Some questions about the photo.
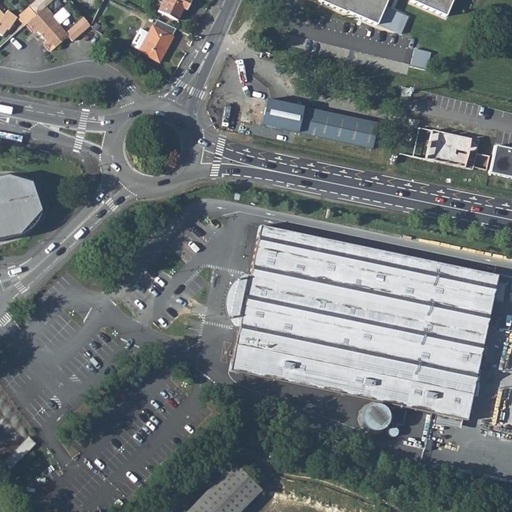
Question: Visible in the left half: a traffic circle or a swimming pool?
traffic circle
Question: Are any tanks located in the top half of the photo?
No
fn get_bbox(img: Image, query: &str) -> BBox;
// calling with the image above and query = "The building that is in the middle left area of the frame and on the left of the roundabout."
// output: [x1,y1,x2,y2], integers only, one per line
[0,174,43,238]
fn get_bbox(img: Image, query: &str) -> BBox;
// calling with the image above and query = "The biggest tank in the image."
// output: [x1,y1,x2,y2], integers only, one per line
[358,400,392,430]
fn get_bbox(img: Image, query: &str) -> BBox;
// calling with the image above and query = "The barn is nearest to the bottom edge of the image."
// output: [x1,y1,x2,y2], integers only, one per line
[193,467,262,512]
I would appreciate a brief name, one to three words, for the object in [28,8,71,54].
house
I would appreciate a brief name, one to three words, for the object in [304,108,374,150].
building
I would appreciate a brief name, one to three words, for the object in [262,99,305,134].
building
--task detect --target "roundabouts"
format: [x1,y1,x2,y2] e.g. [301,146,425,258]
[102,96,202,196]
